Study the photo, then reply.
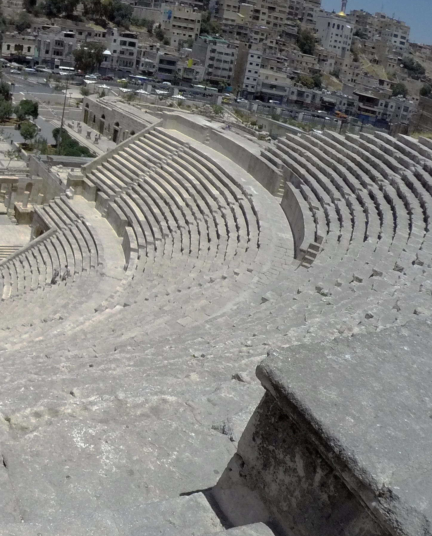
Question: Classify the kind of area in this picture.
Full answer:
This image shows a residential area.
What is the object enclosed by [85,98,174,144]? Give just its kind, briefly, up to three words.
building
